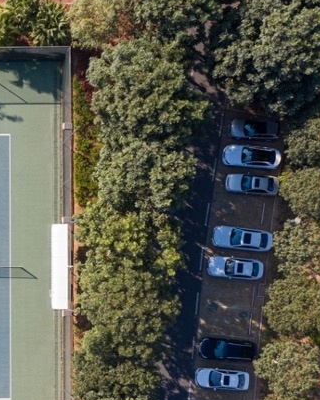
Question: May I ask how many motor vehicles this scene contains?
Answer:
seven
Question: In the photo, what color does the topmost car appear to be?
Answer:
black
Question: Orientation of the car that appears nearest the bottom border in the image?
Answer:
horizontally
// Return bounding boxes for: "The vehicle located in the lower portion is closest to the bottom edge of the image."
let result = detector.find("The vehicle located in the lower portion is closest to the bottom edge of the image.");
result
[192,367,250,391]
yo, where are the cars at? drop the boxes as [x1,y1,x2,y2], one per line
[222,171,280,197]
[192,367,250,391]
[196,336,258,361]
[225,115,281,142]
[220,143,282,169]
[204,255,264,279]
[210,226,272,251]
